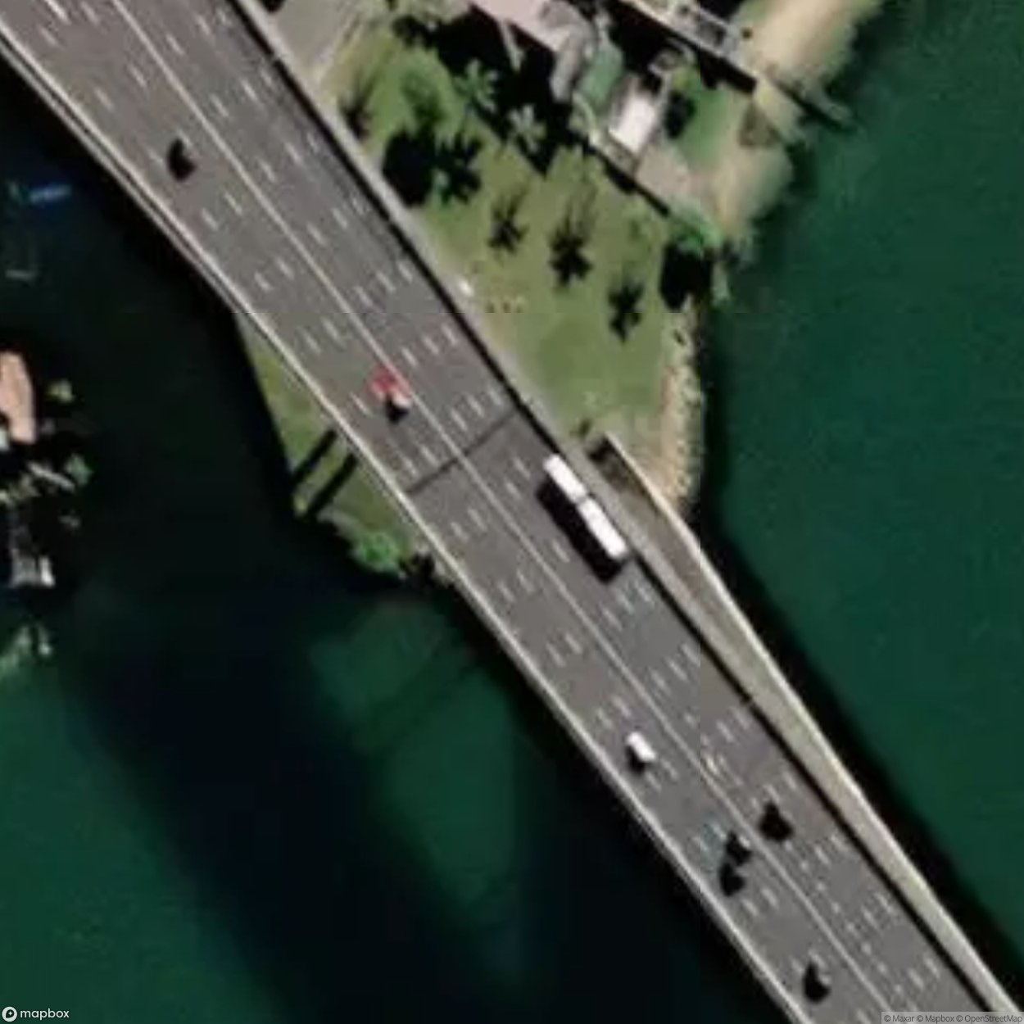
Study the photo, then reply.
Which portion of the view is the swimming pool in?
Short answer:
top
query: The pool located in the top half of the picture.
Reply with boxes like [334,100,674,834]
[584,39,630,110]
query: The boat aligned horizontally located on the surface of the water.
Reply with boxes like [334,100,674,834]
[28,185,70,203]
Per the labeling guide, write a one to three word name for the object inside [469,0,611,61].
house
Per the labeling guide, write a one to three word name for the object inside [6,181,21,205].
boat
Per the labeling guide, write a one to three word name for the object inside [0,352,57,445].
house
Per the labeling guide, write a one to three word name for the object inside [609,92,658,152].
building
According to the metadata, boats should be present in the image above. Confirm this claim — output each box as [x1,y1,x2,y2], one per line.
[28,185,70,203]
[6,181,21,205]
